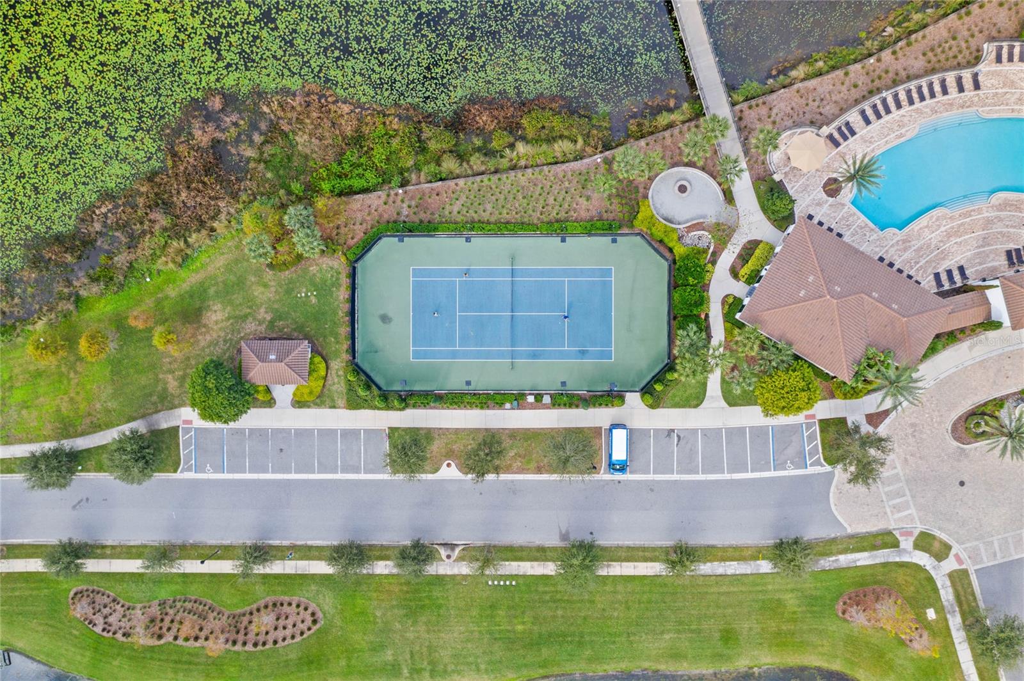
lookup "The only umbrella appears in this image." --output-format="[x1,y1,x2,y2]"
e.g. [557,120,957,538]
[793,129,833,169]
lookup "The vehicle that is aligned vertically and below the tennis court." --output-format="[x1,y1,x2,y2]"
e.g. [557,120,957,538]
[607,424,629,475]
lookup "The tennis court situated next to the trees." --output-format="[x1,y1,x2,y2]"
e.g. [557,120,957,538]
[356,235,667,390]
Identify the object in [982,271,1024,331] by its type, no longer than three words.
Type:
building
